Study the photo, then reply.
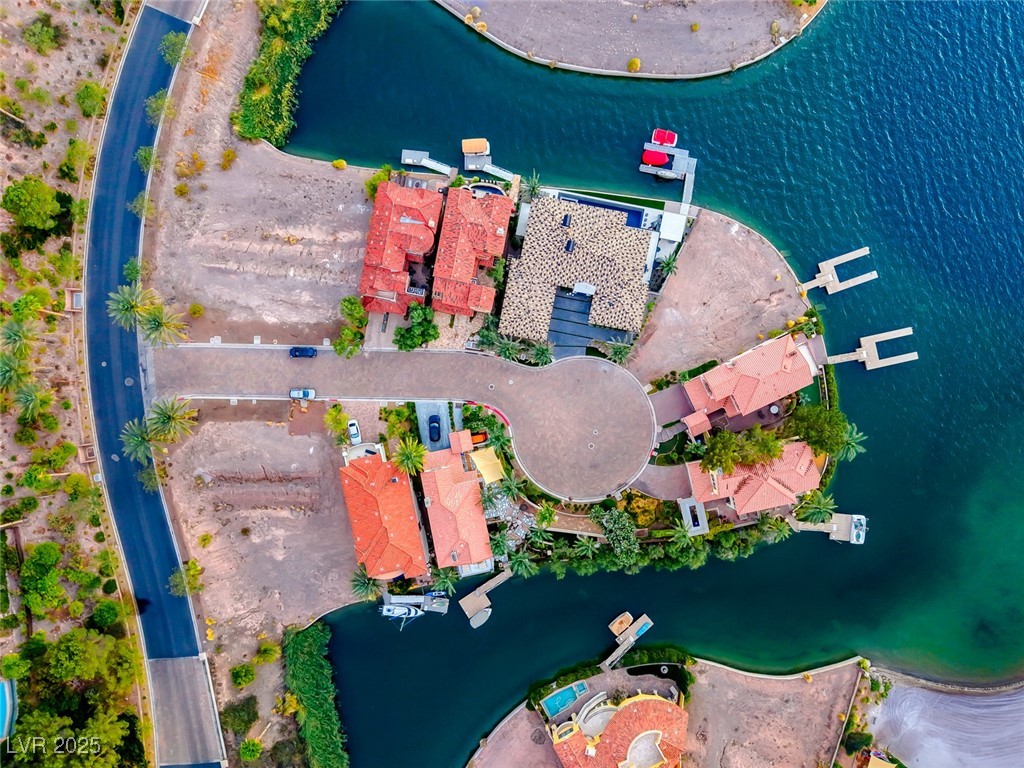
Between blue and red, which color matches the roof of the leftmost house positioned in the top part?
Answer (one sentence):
The roof of the leftmost house positioned in the top part looks red in the image.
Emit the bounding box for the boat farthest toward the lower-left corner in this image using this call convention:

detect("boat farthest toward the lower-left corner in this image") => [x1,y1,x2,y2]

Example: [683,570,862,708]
[379,604,424,627]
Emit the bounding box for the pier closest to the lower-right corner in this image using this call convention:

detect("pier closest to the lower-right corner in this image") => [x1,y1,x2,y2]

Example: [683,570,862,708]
[786,513,852,541]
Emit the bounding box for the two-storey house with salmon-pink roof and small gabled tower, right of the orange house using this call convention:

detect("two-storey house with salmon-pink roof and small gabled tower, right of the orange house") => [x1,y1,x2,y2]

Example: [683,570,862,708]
[421,430,495,578]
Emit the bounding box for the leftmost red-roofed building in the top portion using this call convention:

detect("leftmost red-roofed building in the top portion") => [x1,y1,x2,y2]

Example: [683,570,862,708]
[360,181,443,316]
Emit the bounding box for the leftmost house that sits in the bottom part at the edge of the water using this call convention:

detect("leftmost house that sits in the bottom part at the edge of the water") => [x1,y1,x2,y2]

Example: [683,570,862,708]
[338,441,428,584]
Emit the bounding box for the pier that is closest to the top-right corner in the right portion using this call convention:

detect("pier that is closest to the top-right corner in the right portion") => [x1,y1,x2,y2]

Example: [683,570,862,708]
[796,247,878,296]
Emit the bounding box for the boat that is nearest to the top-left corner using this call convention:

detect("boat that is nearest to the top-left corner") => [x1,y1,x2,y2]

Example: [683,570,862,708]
[460,136,491,156]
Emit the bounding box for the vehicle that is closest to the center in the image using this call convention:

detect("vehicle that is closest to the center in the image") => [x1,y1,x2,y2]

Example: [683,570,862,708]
[427,415,441,442]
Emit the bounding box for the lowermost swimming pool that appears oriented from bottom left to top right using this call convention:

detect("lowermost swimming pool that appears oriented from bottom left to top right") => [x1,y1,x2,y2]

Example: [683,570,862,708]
[541,681,589,718]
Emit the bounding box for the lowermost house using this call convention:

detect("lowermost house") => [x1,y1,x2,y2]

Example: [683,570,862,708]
[551,684,692,768]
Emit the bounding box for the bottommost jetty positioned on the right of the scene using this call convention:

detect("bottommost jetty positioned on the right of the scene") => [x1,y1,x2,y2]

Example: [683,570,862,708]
[601,613,654,671]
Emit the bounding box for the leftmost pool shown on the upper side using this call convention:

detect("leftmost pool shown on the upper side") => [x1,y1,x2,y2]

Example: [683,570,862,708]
[462,183,505,195]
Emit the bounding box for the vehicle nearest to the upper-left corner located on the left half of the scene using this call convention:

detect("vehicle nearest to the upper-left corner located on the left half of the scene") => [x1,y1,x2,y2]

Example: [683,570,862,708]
[289,346,317,359]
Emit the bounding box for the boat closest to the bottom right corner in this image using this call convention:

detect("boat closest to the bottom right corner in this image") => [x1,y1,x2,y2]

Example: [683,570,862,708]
[851,515,869,543]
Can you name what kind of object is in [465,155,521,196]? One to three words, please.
pier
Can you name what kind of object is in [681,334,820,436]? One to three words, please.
house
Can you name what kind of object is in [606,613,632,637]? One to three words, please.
boat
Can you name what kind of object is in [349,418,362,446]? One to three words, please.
vehicle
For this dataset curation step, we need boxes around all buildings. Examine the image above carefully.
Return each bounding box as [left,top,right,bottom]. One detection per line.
[338,441,428,584]
[551,684,692,768]
[499,198,660,341]
[432,188,513,317]
[360,181,443,316]
[684,442,821,514]
[421,430,495,578]
[681,334,820,436]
